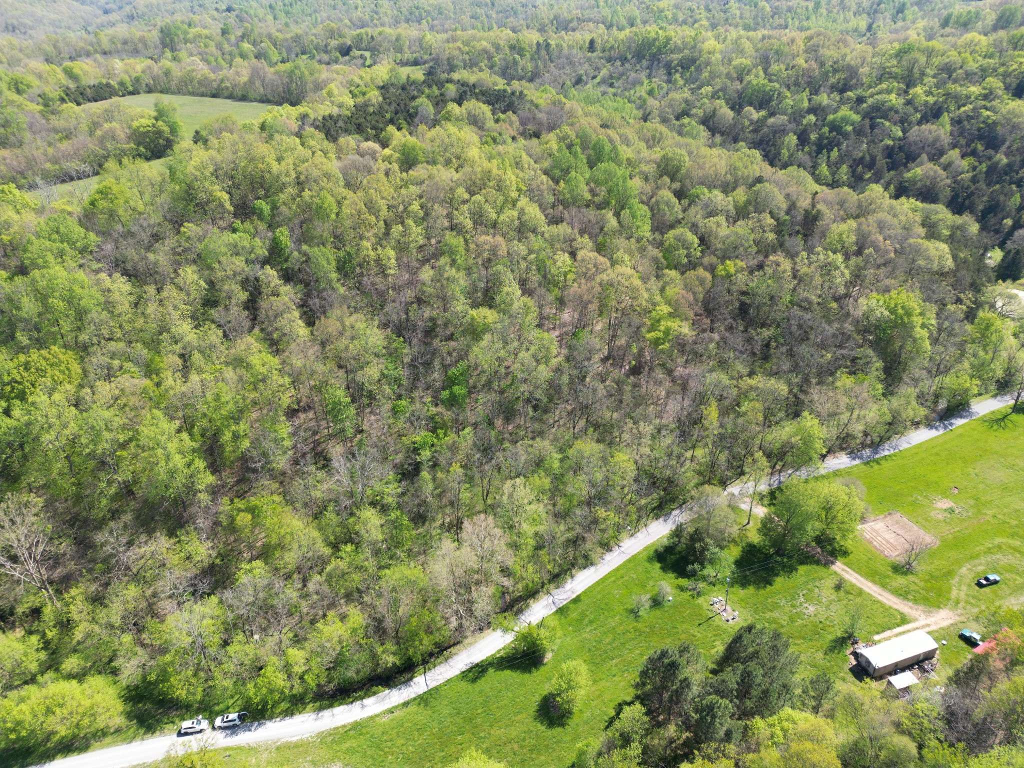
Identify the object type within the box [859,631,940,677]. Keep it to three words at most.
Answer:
house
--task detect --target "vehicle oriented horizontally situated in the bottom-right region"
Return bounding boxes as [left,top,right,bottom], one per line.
[972,574,1001,586]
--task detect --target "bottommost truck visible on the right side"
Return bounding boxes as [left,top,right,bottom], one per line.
[956,626,984,647]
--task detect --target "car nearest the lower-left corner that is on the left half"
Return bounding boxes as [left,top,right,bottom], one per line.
[178,710,210,732]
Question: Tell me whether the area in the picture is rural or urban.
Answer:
rural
